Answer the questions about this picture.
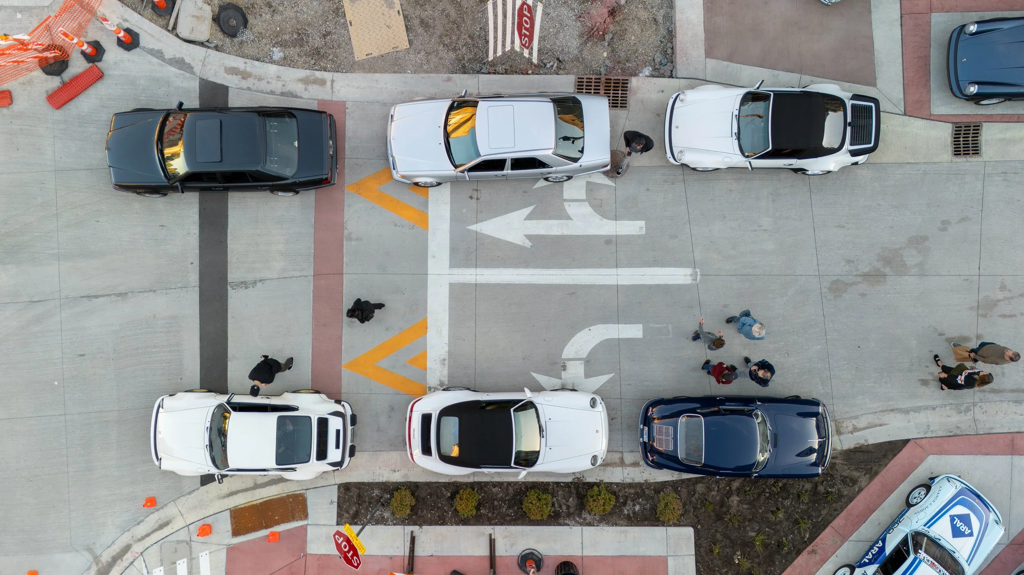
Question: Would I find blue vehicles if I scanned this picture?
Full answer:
Yes, the photo shows a blue vehicle.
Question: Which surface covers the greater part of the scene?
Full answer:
The scene is dominated by paved ground.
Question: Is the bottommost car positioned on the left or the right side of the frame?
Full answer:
The bottommost car appears in the right half of the scene.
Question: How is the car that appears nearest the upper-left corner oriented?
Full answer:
What the image shows is the car that appears nearest the upper-left corner lying horizontally.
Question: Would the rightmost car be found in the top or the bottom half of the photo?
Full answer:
It is in the top half that the rightmost car appears.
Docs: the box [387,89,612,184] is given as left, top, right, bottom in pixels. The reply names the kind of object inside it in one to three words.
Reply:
car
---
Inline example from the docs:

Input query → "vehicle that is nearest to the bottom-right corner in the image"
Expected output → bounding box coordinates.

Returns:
[835,473,1005,575]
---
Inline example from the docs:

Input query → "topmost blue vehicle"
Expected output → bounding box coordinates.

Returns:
[943,17,1024,104]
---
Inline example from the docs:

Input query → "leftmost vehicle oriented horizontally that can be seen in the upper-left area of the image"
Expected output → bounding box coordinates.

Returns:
[104,102,340,197]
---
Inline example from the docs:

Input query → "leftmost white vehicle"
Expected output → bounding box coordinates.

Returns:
[153,390,359,483]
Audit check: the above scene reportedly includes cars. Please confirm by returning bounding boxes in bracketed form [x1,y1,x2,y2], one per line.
[943,17,1024,104]
[638,394,832,479]
[808,0,844,7]
[153,390,359,483]
[835,473,1005,575]
[405,387,605,478]
[387,89,612,184]
[104,102,340,197]
[666,80,880,172]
